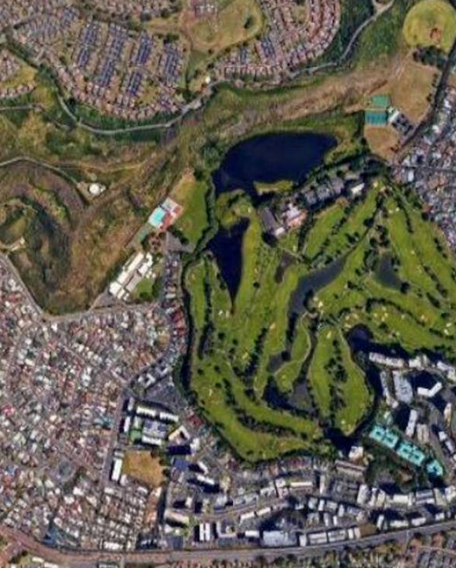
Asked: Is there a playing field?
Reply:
Yes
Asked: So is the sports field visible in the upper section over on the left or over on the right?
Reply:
right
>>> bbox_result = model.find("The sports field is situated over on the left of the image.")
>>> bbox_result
[122,449,163,486]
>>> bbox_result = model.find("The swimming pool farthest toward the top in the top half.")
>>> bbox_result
[148,207,166,225]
